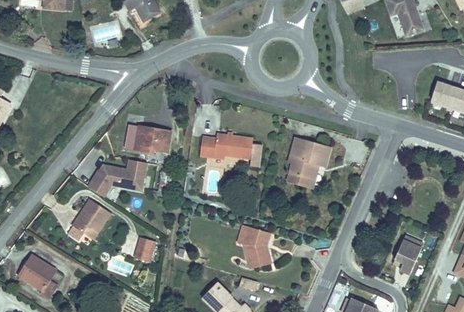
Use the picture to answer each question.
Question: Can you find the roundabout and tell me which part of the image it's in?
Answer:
top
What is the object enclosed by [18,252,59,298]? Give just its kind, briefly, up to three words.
house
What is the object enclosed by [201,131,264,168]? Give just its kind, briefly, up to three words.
house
